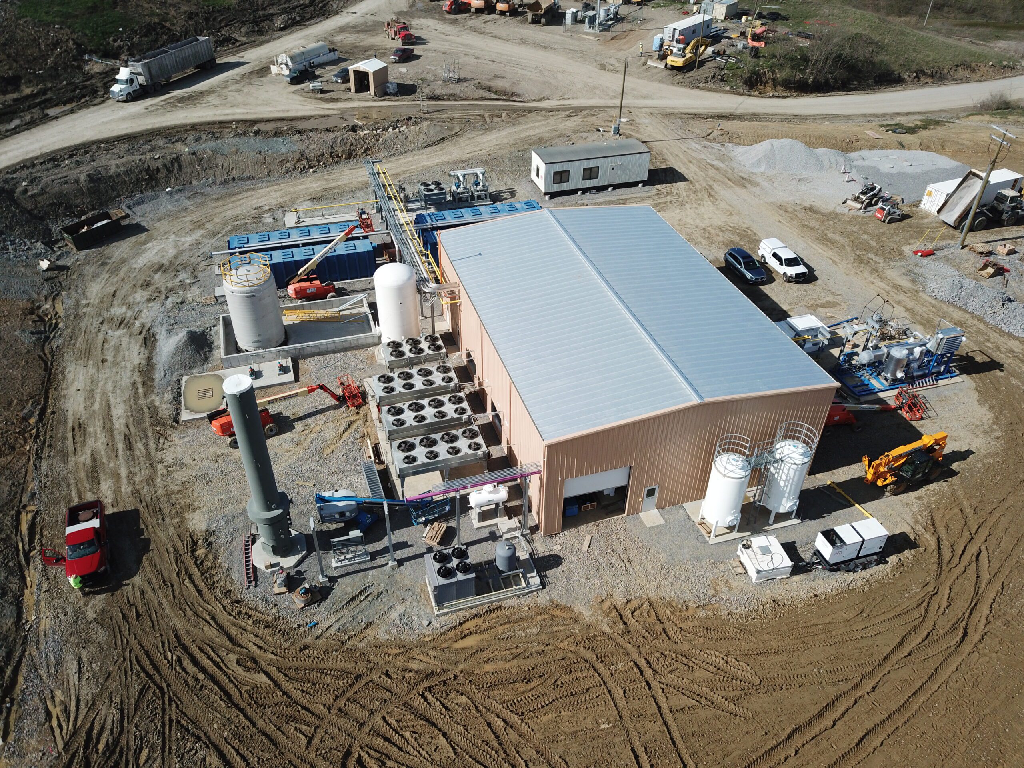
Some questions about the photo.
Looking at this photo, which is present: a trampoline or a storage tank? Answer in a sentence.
Looking from above, you can make out a storage tank.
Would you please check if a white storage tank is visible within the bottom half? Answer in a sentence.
Yes, a white storage tank appears within the bottom half.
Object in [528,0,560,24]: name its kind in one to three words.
truck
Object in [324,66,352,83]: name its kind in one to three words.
car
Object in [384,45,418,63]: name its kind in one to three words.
vehicle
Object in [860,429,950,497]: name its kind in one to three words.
work vehicle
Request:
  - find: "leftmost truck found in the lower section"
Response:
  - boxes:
[41,499,111,586]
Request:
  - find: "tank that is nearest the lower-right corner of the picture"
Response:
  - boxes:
[735,536,795,587]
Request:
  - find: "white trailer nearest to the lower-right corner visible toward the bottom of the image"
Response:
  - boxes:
[797,515,890,567]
